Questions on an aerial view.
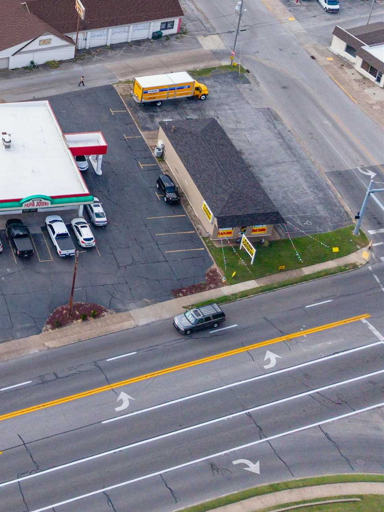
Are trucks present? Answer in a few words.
Yes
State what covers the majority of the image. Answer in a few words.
paved ground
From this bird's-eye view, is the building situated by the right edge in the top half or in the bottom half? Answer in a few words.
top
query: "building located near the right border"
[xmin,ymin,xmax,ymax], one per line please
[329,22,384,87]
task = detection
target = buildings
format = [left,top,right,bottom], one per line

[329,22,384,87]
[0,101,106,228]
[157,118,290,246]
[0,0,191,71]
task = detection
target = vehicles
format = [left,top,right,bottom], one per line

[154,168,180,207]
[127,68,208,104]
[8,220,32,258]
[73,154,92,175]
[72,219,95,250]
[319,0,339,12]
[46,218,72,257]
[170,299,230,334]
[87,197,108,227]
